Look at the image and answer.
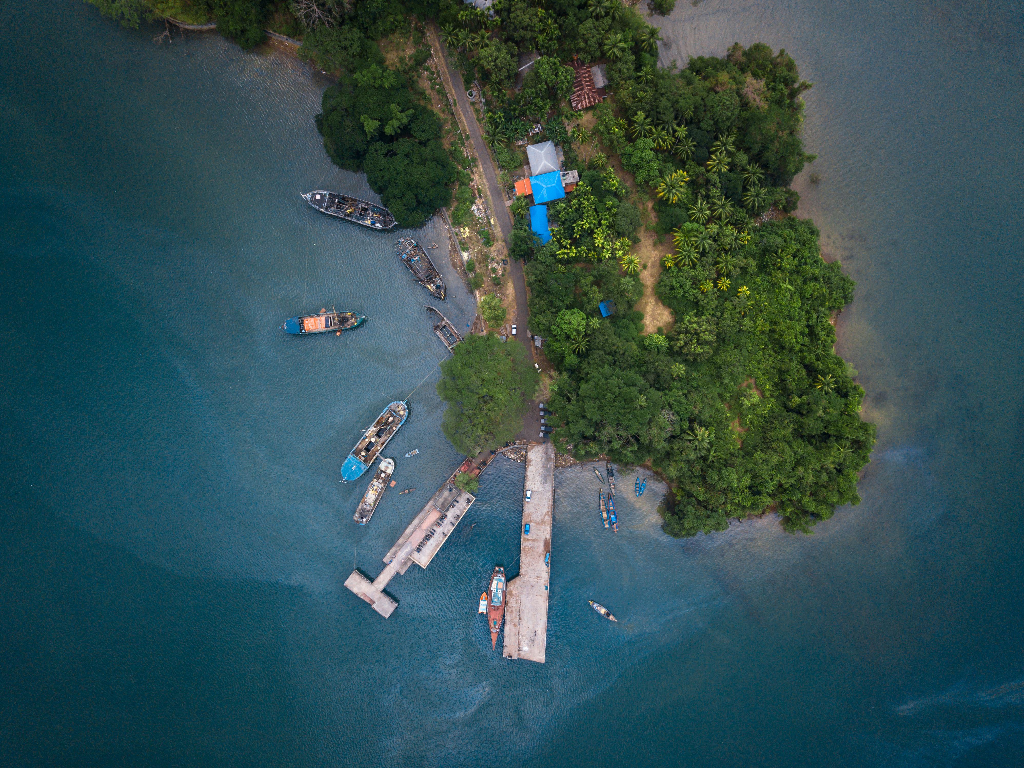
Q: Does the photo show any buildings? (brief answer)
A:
Yes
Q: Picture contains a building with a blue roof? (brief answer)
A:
Yes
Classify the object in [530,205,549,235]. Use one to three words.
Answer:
house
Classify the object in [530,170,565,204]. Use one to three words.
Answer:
house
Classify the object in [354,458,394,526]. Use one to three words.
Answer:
boat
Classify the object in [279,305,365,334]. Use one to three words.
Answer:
boat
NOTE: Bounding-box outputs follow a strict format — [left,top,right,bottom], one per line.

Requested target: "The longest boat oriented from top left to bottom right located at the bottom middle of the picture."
[589,601,618,622]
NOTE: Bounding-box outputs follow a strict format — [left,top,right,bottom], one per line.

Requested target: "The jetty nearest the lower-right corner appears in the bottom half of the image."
[503,443,555,663]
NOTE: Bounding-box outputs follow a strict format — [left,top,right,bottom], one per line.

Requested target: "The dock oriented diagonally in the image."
[344,482,475,618]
